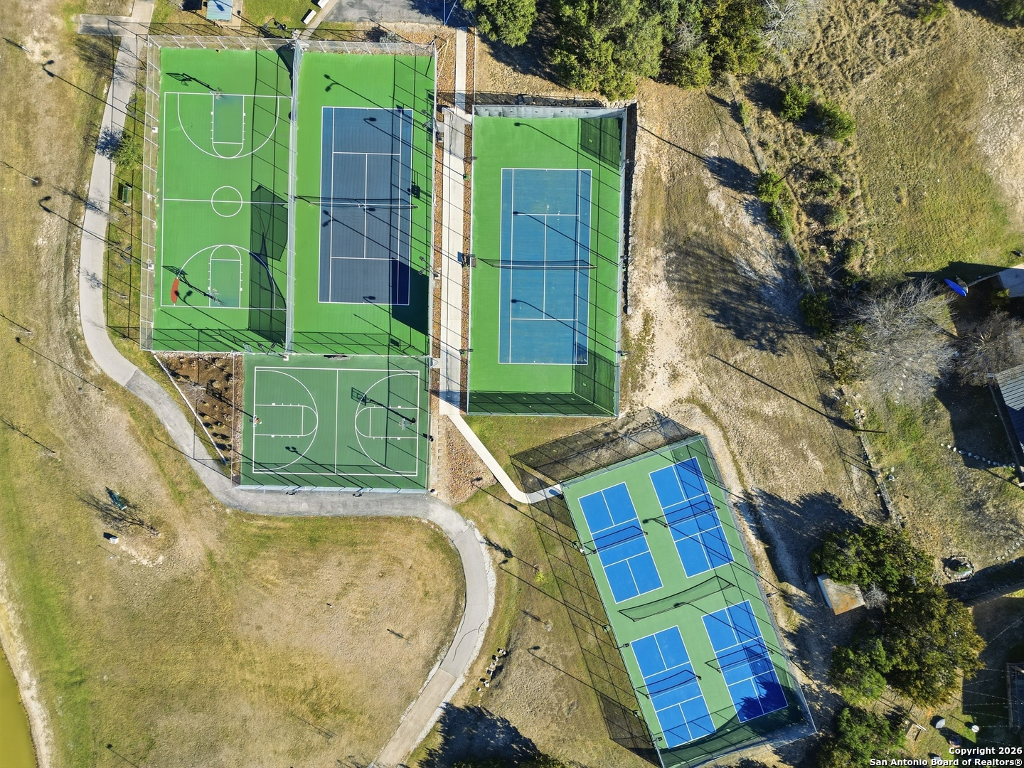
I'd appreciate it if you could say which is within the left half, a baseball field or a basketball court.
basketball court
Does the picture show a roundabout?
No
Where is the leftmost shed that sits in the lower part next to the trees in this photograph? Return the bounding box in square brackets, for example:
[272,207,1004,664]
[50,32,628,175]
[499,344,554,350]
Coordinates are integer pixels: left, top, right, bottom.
[816,566,865,615]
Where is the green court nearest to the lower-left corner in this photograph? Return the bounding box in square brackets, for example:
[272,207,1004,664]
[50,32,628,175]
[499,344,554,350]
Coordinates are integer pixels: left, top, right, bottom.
[241,354,430,490]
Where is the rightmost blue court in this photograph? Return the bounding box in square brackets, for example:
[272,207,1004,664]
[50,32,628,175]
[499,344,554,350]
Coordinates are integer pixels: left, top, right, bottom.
[702,600,788,724]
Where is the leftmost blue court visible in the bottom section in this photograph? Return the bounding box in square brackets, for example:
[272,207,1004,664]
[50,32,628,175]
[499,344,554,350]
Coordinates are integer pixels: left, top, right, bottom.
[578,482,663,604]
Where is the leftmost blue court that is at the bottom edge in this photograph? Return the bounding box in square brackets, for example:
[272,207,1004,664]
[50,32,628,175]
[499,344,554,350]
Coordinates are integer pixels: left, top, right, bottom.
[630,626,716,749]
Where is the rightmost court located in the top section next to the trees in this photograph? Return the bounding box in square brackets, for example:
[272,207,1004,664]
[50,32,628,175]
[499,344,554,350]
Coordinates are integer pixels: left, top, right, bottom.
[468,118,622,414]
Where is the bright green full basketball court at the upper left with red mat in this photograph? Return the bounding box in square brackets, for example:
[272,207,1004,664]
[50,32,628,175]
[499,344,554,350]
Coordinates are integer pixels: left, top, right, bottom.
[153,48,303,353]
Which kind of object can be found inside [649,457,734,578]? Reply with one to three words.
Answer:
sports court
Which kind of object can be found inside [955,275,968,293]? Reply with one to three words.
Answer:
boat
